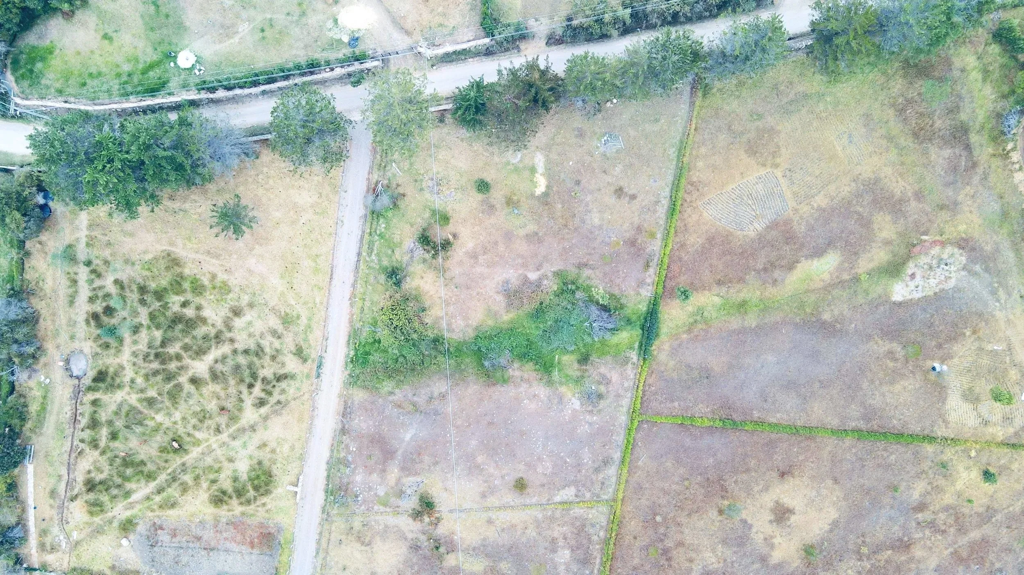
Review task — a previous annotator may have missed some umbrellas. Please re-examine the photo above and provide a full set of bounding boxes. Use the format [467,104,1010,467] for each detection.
[178,50,197,70]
